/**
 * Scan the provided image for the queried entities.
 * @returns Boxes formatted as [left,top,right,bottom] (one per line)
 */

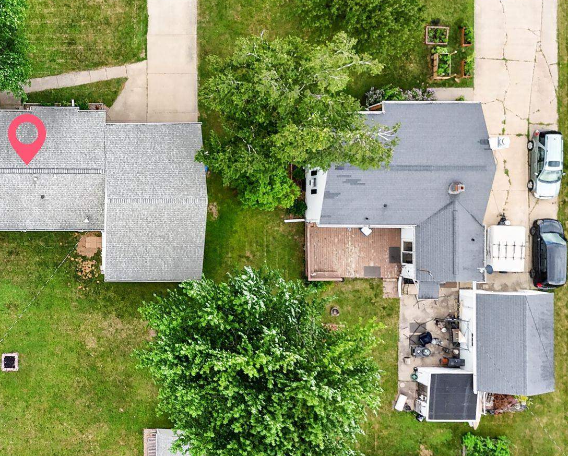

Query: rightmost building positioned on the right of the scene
[458,282,553,398]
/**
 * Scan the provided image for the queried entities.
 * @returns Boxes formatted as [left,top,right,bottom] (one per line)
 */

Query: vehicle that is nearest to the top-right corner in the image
[523,133,563,198]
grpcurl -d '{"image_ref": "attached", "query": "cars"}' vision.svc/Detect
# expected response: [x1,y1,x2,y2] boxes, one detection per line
[525,220,567,288]
[523,133,563,198]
